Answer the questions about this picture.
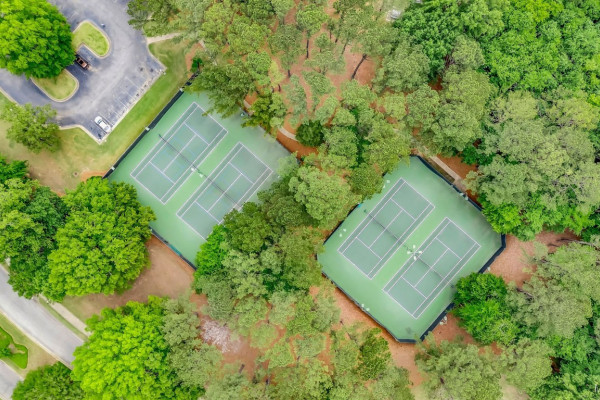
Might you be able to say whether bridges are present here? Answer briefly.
No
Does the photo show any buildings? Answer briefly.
No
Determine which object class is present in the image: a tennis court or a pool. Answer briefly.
tennis court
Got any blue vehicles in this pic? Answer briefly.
No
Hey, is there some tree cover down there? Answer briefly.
Yes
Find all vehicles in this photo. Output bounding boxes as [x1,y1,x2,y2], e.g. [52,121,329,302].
[93,115,111,133]
[71,52,88,69]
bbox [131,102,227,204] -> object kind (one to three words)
tennis court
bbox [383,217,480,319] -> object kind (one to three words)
tennis court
